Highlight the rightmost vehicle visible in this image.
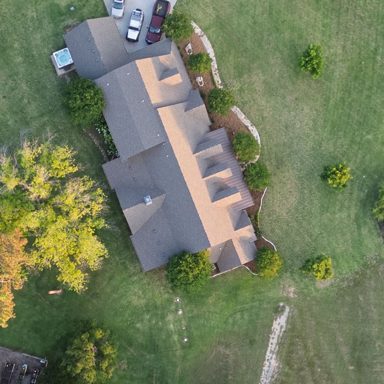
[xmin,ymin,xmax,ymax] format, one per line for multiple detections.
[147,0,170,44]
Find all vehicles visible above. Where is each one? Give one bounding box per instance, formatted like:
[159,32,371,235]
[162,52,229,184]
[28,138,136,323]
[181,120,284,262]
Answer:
[126,7,143,41]
[147,0,170,44]
[110,0,125,18]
